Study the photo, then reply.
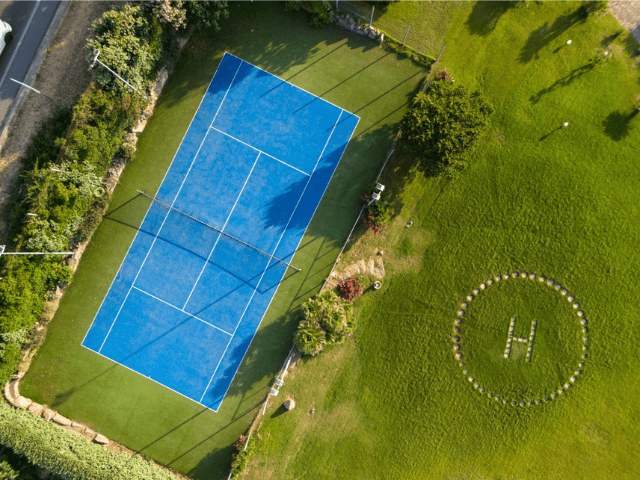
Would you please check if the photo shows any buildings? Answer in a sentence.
No, I can't see a single building in this photo.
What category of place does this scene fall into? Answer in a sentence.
This image shows a sports ground.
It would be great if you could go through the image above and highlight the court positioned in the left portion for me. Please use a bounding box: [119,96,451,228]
[19,0,431,480]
